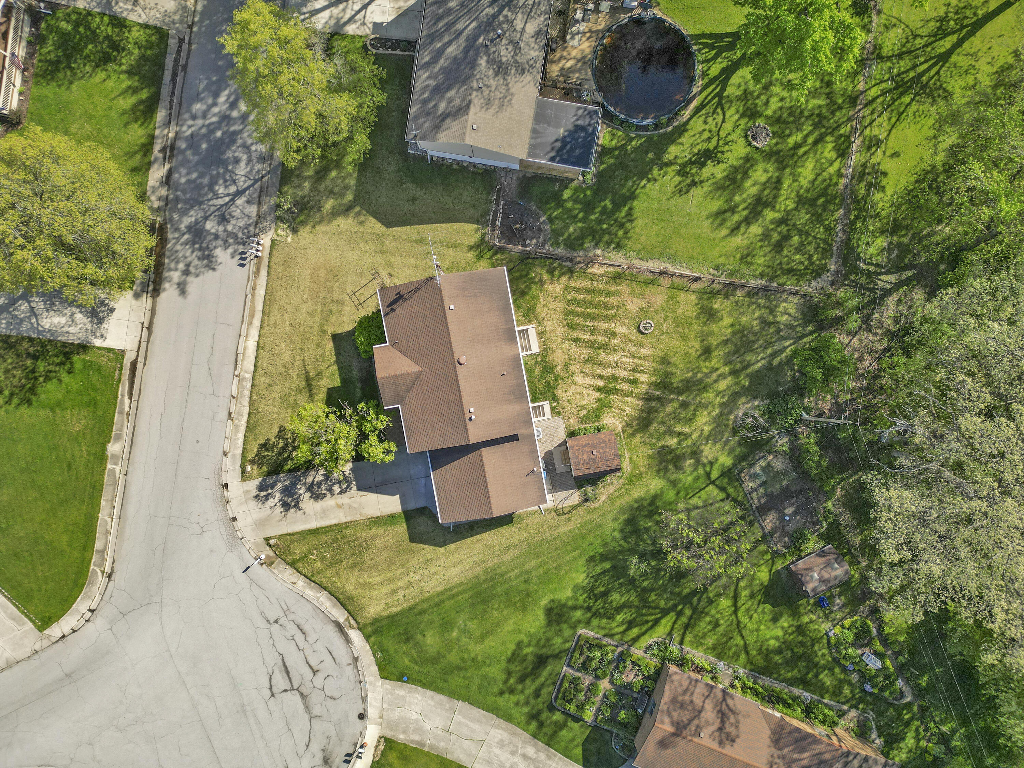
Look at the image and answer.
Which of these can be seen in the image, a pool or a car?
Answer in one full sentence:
Of the two, only a pool appears.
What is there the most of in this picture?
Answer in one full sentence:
The largest share of the image is taken up by grass.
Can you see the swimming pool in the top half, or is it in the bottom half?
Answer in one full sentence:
It is in the top half that the swimming pool appears.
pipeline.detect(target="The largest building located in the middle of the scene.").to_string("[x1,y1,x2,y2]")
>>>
[373,266,550,531]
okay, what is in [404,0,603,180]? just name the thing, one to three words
house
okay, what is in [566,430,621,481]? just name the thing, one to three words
shed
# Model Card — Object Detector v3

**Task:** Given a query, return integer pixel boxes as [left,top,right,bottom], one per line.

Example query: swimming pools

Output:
[591,17,698,128]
